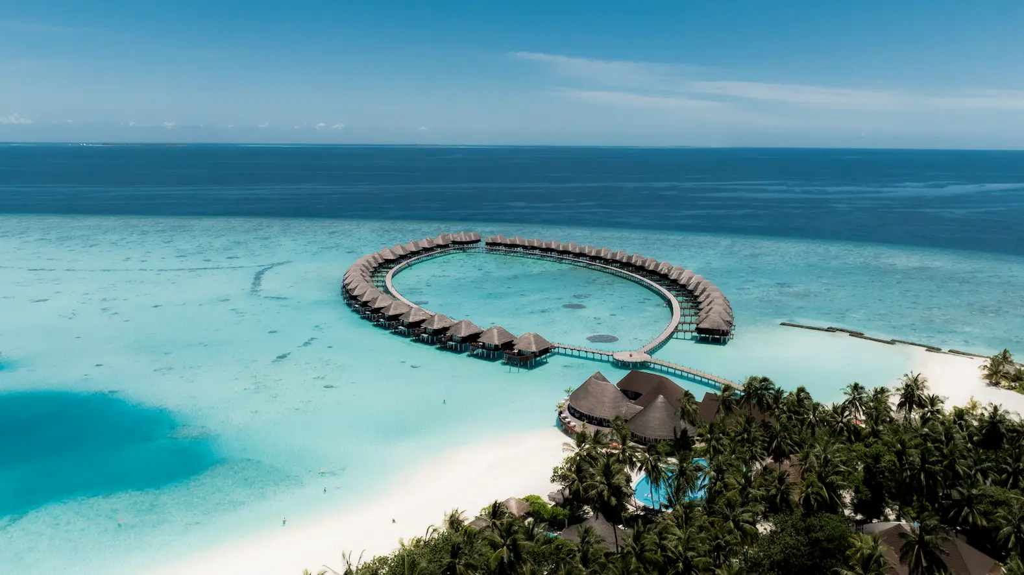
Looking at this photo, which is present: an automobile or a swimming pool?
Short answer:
swimming pool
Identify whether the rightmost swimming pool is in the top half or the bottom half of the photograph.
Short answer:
bottom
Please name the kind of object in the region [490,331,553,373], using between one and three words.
house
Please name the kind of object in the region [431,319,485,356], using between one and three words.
house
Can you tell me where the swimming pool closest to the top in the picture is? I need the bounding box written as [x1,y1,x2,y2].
[631,456,747,510]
